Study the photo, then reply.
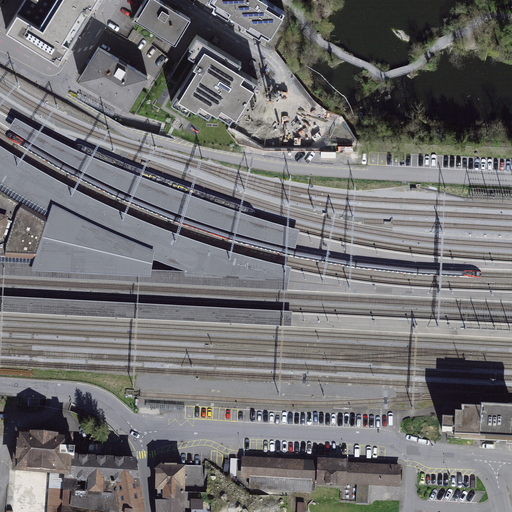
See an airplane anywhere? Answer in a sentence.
No, I find no airplane anywhere in the image.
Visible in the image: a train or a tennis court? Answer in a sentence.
This aerial view contains a train.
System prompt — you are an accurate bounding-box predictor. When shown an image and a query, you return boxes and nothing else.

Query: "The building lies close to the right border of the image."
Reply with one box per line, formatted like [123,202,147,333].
[441,402,512,440]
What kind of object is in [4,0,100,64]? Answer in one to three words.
building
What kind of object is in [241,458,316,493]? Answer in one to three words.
shed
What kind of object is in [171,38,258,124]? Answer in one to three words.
building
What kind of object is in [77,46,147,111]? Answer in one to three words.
house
